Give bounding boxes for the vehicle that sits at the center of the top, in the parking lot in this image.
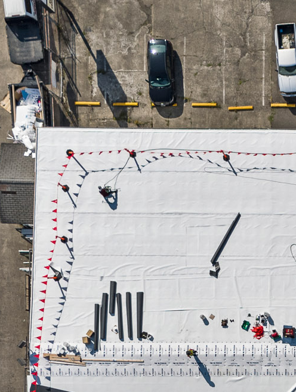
[145,38,178,108]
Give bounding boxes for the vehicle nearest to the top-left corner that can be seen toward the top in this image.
[6,0,48,83]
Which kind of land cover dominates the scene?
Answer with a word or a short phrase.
buildings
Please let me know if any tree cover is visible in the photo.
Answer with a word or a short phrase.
No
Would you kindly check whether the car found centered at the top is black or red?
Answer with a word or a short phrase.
black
